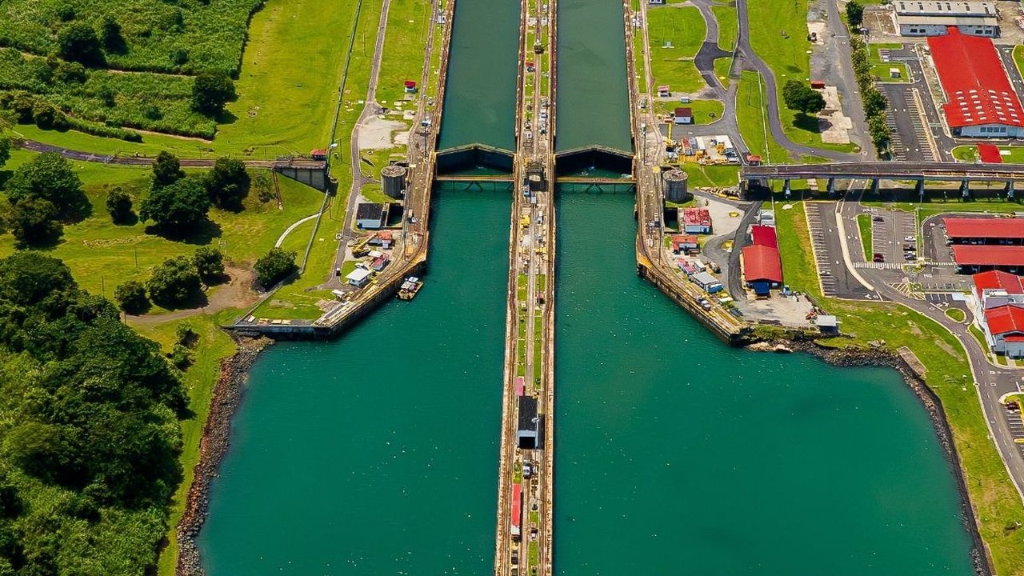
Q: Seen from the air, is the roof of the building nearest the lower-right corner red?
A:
Yes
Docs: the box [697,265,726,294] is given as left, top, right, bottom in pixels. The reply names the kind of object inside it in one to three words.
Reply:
building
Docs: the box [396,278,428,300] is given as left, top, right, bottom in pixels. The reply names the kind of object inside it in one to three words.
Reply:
ship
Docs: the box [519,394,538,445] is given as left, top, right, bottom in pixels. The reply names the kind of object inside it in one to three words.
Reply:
shed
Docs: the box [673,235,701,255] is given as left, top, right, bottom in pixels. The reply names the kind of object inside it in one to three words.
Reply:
house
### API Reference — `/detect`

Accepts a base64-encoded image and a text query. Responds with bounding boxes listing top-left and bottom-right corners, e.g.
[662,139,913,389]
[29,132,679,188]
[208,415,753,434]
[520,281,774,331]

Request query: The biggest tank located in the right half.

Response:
[661,167,692,204]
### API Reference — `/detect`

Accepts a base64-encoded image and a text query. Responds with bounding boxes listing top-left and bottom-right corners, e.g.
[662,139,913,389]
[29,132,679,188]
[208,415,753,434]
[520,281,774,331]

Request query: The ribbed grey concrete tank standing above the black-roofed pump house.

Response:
[378,163,409,200]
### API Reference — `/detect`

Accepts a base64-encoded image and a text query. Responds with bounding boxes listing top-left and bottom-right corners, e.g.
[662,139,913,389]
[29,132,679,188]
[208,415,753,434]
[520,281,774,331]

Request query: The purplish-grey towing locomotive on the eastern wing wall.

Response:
[694,293,715,310]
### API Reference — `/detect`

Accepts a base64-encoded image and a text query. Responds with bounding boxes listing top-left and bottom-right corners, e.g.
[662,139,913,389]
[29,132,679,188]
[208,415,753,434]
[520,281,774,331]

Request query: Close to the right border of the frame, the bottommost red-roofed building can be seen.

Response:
[965,270,1024,357]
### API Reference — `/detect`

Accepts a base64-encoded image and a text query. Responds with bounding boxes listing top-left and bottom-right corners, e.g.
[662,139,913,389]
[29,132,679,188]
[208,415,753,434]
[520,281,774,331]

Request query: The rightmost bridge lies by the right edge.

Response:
[735,159,1024,196]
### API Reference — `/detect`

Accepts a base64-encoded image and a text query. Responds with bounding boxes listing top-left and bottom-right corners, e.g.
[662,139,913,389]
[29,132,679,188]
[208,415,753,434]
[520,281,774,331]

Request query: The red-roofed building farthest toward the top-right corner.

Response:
[925,29,1024,137]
